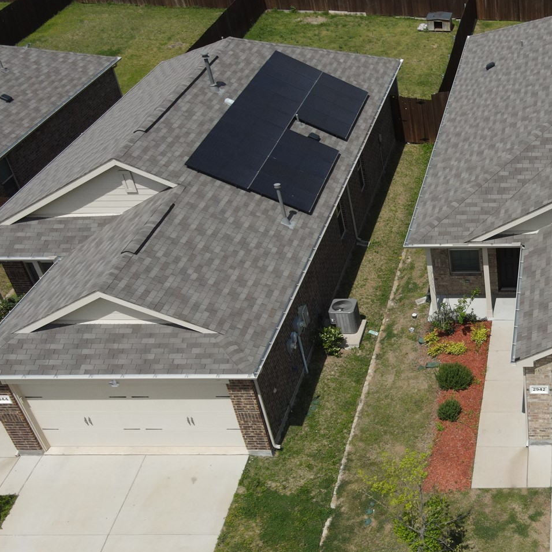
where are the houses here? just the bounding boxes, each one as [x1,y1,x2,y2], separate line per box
[0,37,404,460]
[404,16,552,447]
